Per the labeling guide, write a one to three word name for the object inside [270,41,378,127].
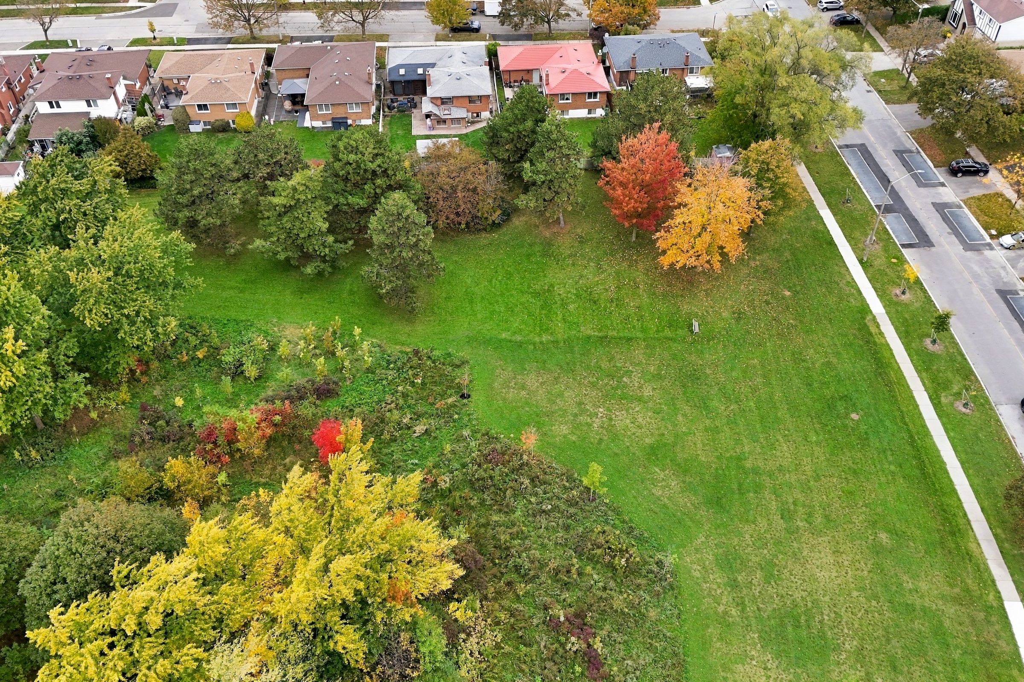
house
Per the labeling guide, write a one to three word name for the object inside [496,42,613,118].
house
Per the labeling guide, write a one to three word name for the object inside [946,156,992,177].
car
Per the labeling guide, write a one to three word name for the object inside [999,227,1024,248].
car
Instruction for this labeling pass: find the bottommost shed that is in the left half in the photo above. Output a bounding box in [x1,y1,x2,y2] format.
[0,160,30,192]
